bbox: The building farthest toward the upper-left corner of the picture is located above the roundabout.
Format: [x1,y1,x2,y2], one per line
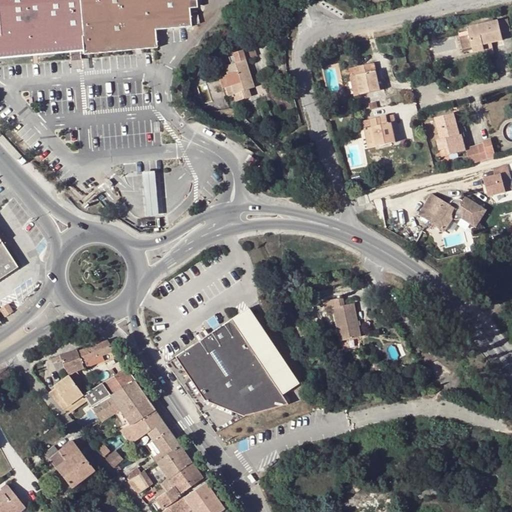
[0,0,84,58]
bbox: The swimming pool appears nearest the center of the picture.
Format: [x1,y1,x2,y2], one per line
[344,140,368,170]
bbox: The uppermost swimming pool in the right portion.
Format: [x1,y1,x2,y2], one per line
[322,64,342,92]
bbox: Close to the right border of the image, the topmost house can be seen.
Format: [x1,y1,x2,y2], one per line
[458,20,502,52]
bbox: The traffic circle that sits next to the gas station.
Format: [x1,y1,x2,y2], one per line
[52,229,142,318]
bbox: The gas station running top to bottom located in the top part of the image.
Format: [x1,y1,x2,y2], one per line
[138,171,166,232]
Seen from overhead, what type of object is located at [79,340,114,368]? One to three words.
house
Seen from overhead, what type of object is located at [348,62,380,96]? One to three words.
house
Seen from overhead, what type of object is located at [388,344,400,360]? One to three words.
swimming pool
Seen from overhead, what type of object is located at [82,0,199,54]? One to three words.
building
